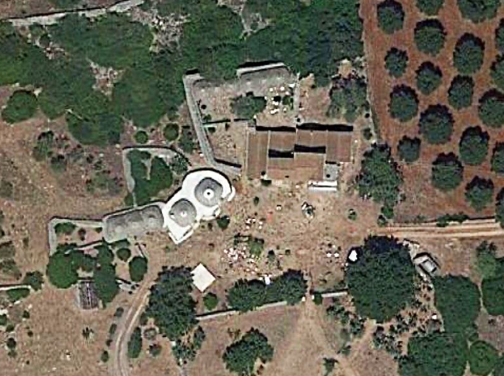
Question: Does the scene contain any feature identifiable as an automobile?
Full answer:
No, there's no automobile here.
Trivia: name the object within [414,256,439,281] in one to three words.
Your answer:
shed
